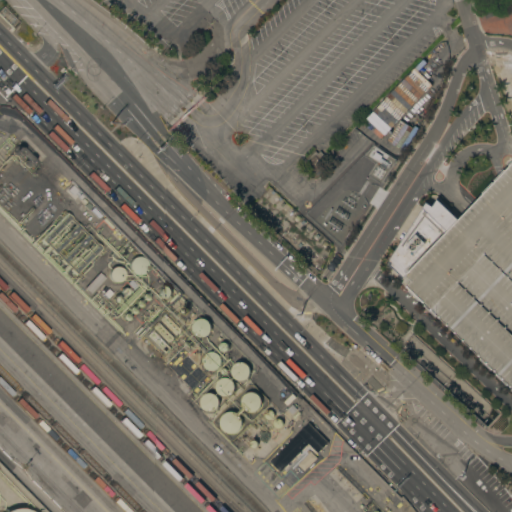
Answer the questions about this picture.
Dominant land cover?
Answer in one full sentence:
The scene is dominated by paved ground.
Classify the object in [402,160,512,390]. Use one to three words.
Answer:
building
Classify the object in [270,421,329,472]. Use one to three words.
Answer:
building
